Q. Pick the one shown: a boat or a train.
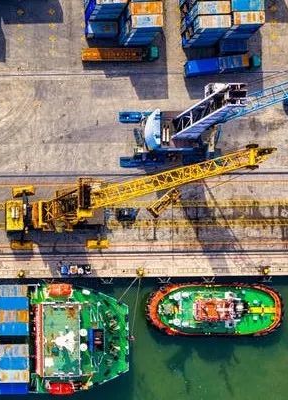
boat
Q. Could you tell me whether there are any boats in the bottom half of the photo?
Yes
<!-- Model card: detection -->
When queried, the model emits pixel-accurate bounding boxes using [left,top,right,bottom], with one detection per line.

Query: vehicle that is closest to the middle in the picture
[116,206,140,219]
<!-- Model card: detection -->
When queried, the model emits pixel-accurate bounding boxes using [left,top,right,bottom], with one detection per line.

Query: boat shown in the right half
[142,281,283,339]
